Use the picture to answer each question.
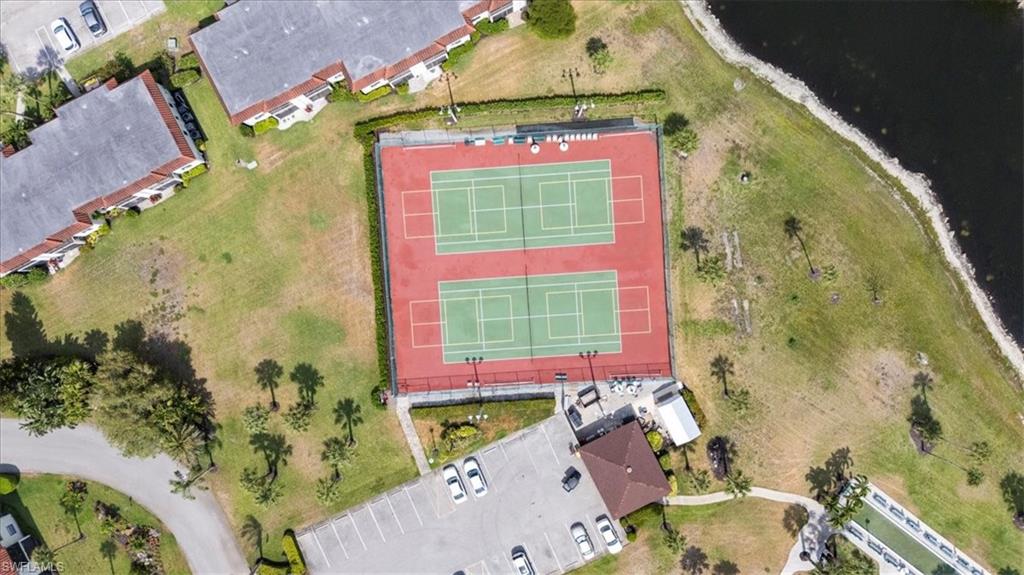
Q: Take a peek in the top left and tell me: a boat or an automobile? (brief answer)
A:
automobile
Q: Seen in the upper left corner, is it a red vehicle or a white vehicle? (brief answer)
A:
white vehicle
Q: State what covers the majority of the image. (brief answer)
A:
grass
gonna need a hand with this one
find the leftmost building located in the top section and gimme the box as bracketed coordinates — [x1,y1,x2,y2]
[0,69,203,281]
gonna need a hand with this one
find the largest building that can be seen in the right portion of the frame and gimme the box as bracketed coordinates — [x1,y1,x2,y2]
[578,418,672,519]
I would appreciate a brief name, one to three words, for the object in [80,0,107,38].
car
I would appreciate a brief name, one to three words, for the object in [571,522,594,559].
car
